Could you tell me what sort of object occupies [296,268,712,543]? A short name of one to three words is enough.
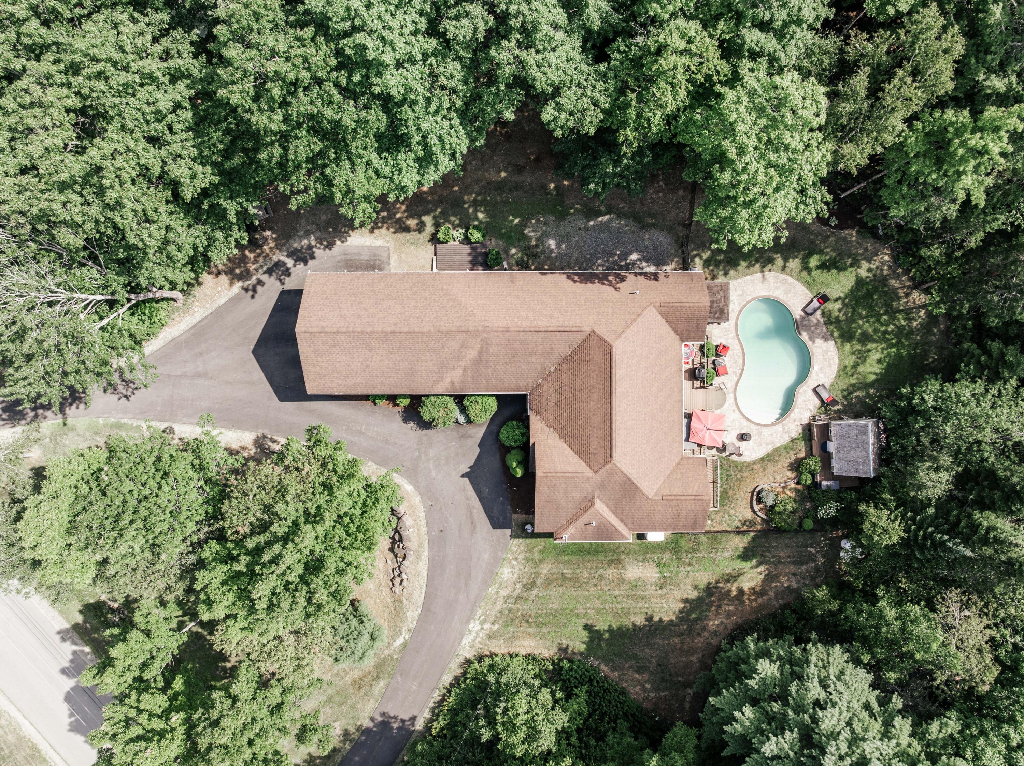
house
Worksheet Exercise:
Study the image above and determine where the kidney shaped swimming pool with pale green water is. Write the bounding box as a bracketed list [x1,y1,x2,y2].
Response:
[732,294,818,428]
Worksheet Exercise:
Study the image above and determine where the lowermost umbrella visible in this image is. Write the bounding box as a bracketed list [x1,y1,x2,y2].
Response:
[689,409,729,447]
